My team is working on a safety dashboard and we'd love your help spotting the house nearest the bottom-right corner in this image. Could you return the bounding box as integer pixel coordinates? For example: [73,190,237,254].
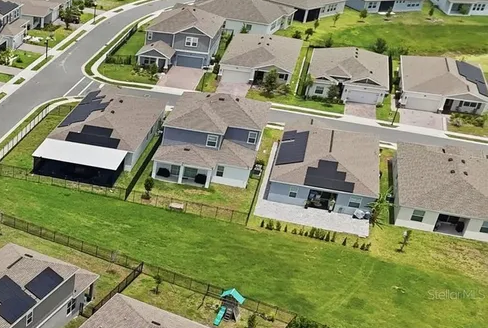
[390,143,488,241]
